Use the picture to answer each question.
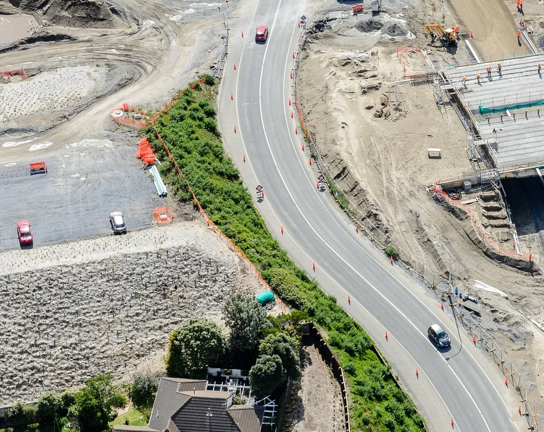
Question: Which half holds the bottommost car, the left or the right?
right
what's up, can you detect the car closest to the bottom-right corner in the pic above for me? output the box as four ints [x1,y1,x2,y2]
[427,322,453,347]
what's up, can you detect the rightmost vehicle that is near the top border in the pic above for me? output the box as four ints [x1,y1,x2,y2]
[421,19,461,47]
